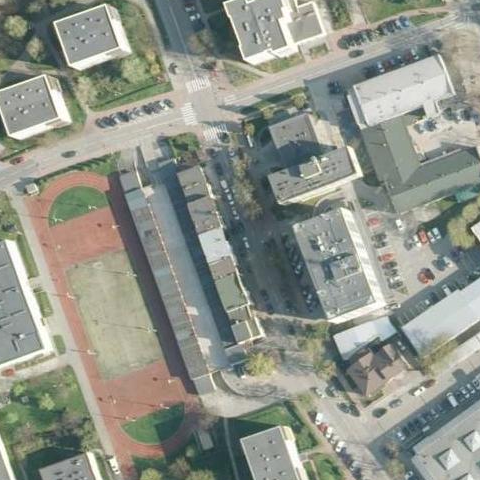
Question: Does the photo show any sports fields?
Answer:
Yes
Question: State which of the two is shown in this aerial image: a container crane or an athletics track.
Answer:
athletics track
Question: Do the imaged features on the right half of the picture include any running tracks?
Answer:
No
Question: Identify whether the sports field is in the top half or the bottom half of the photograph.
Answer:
bottom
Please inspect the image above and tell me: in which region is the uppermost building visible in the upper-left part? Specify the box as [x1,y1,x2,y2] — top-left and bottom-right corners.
[54,4,130,70]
